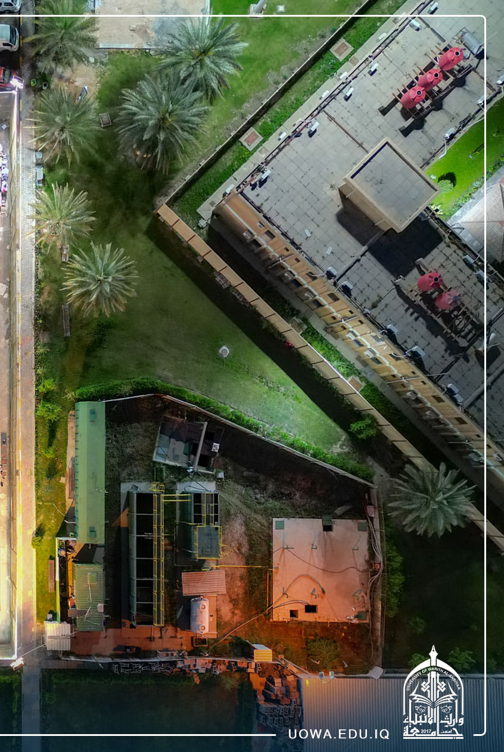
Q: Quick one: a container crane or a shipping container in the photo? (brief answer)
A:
shipping container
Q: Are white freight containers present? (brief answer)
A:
No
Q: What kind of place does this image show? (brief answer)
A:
industrial area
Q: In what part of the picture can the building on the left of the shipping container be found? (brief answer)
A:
bottom left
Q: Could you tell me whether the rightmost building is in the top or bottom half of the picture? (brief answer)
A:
top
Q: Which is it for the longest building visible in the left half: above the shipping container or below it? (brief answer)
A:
above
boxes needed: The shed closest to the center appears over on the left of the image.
[145,416,224,473]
